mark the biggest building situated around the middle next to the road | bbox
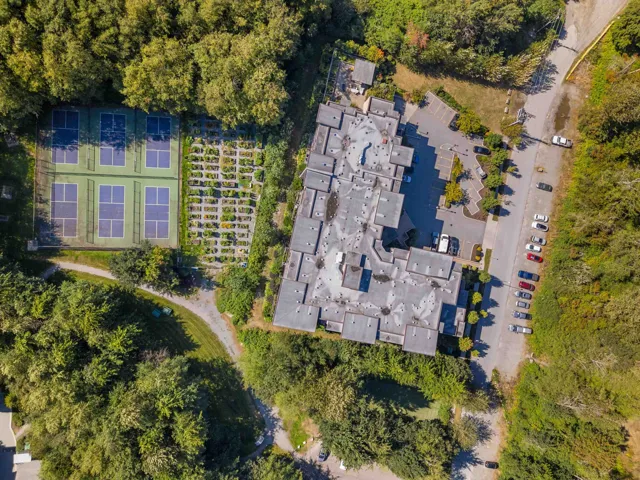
[273,97,469,354]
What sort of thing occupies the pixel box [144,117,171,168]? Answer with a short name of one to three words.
sports court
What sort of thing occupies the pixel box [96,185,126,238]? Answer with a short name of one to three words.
sports court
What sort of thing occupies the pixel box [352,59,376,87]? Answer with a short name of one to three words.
building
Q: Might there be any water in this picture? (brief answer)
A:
No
